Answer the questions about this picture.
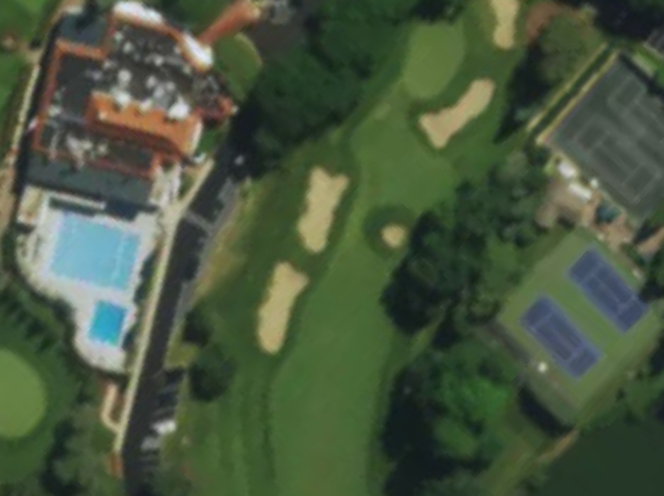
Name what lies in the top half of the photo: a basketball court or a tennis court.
tennis court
